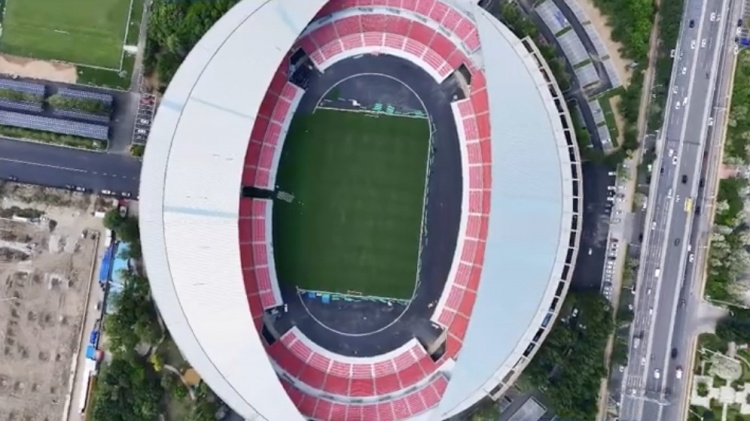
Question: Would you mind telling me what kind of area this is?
sports ground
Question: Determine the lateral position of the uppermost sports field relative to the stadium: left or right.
to the left of it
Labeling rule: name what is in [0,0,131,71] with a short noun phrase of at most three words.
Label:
sports field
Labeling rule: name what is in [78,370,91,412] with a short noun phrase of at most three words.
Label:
shed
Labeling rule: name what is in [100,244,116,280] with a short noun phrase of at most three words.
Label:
shed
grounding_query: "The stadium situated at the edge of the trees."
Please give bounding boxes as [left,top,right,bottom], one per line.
[141,0,584,421]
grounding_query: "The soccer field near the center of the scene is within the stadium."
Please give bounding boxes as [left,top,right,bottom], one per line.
[275,108,431,302]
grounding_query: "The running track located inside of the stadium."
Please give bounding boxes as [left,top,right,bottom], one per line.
[268,52,461,355]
